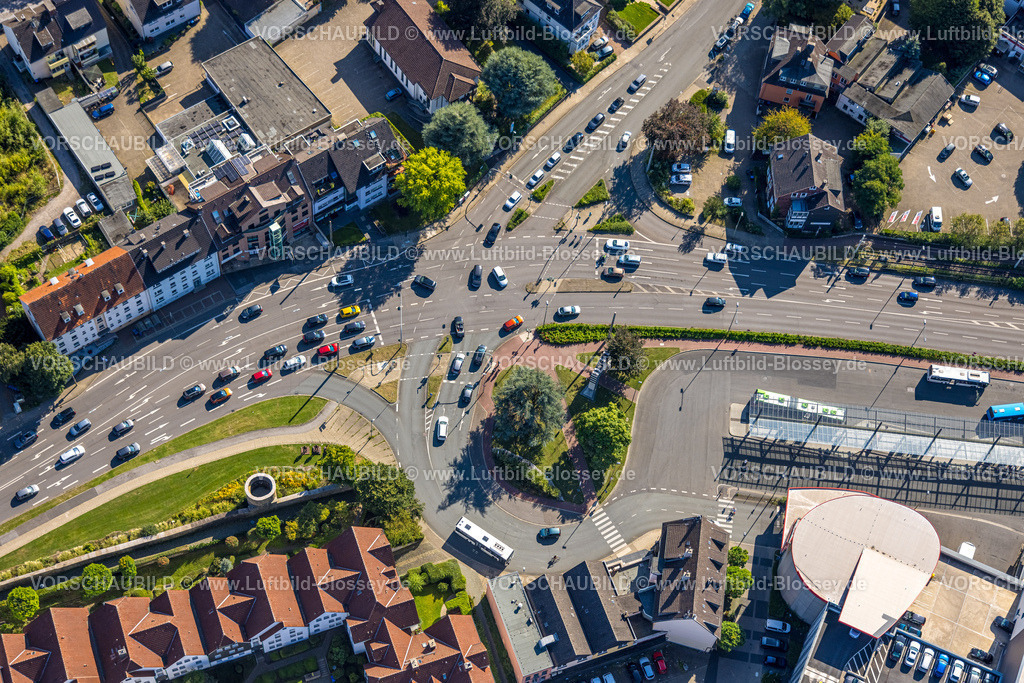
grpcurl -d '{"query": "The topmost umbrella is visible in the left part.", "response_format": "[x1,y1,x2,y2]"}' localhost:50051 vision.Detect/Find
[84,70,106,86]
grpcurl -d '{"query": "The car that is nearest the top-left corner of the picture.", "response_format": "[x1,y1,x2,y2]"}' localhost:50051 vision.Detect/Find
[91,101,115,119]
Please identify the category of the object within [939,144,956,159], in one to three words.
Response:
car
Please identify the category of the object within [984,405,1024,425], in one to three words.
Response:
bus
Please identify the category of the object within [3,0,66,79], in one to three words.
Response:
house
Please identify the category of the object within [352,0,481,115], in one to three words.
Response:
building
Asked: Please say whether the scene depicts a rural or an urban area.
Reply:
urban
